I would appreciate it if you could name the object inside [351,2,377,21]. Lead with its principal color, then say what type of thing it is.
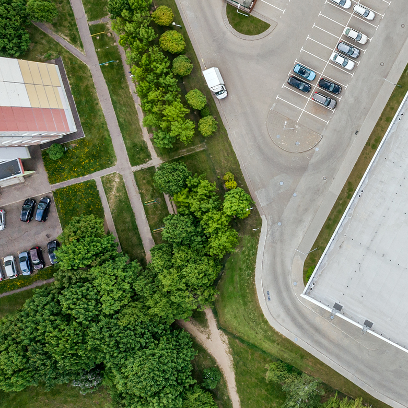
white car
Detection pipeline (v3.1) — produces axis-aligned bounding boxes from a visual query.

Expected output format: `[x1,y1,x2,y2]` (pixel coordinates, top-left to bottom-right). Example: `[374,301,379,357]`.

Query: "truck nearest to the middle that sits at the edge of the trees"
[203,66,228,101]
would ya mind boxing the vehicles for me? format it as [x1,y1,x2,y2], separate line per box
[30,246,47,271]
[342,26,370,45]
[21,198,38,223]
[203,66,228,101]
[329,51,357,71]
[311,90,339,109]
[351,2,377,21]
[35,197,53,223]
[17,250,36,277]
[286,75,314,94]
[317,77,344,95]
[4,254,22,280]
[49,240,64,265]
[291,63,318,82]
[330,0,354,10]
[334,40,363,60]
[0,209,9,232]
[0,260,5,281]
